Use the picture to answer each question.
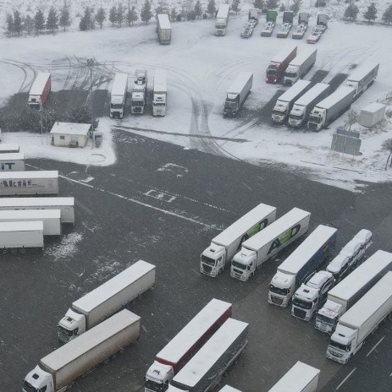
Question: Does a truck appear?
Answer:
Yes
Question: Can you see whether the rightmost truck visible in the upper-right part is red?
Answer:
No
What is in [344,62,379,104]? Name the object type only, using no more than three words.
truck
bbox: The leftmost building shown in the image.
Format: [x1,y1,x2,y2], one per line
[51,117,91,150]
